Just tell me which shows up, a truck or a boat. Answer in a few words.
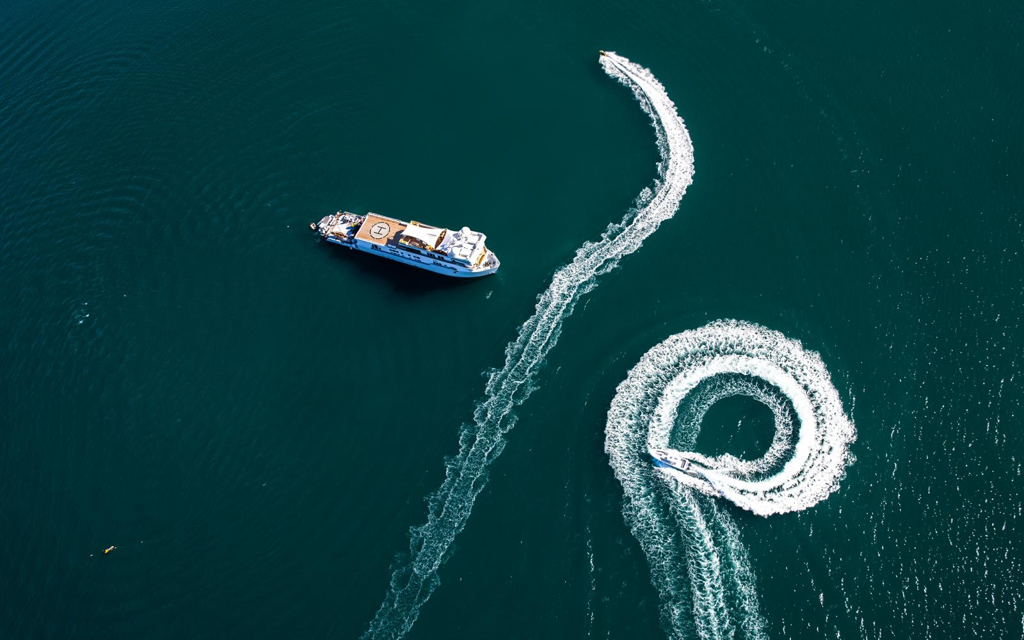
boat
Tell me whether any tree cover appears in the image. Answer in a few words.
No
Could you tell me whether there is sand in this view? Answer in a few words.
No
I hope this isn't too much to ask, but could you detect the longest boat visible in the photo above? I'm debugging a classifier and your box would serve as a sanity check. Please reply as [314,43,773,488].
[319,211,501,277]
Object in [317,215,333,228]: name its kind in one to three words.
boat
